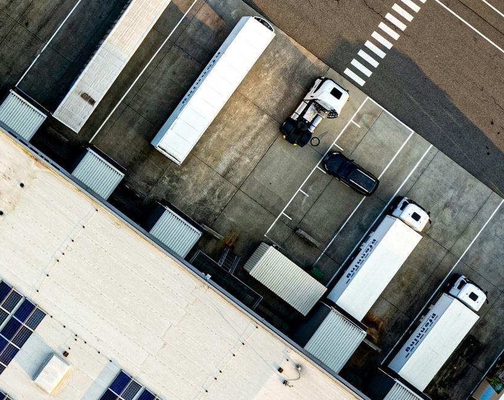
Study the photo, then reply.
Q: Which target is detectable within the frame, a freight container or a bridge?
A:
freight container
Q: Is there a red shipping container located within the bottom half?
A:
No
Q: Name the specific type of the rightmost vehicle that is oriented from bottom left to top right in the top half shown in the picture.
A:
truck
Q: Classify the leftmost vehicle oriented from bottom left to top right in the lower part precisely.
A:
truck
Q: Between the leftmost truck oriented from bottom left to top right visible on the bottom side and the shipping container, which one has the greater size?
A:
the truck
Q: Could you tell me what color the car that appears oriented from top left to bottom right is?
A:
black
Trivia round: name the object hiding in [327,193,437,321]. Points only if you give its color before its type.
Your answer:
white truck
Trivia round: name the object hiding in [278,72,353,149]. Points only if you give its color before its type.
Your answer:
white truck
